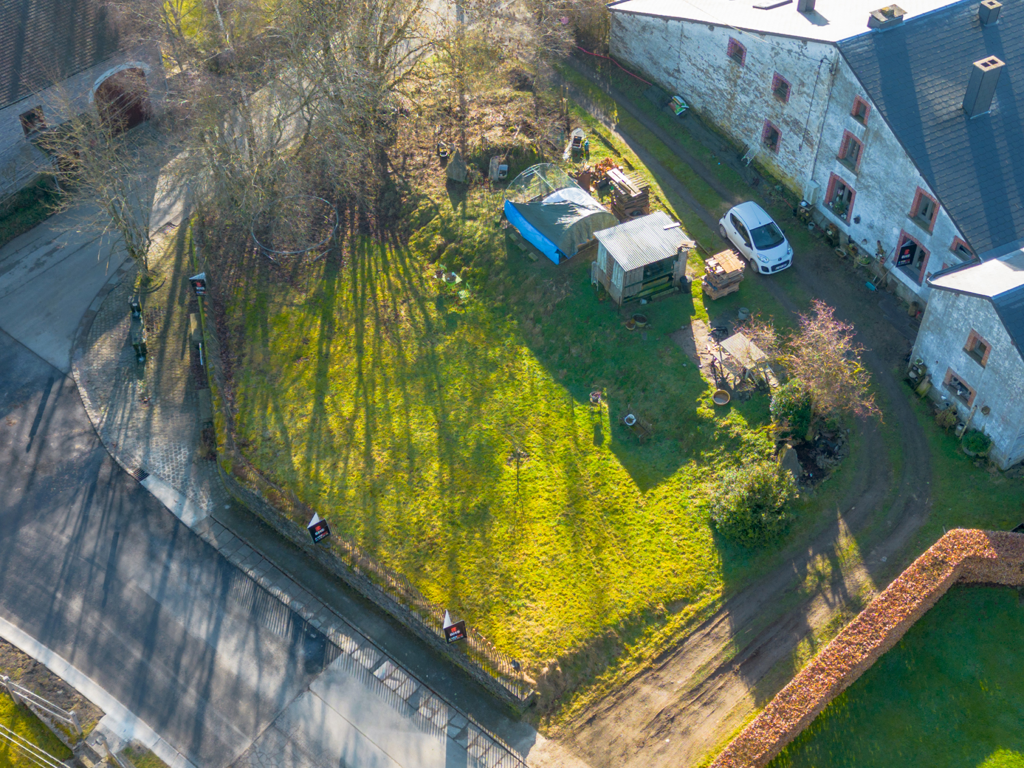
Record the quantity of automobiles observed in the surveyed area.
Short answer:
1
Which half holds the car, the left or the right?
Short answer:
right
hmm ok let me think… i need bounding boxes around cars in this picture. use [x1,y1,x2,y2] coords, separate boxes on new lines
[718,200,799,274]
